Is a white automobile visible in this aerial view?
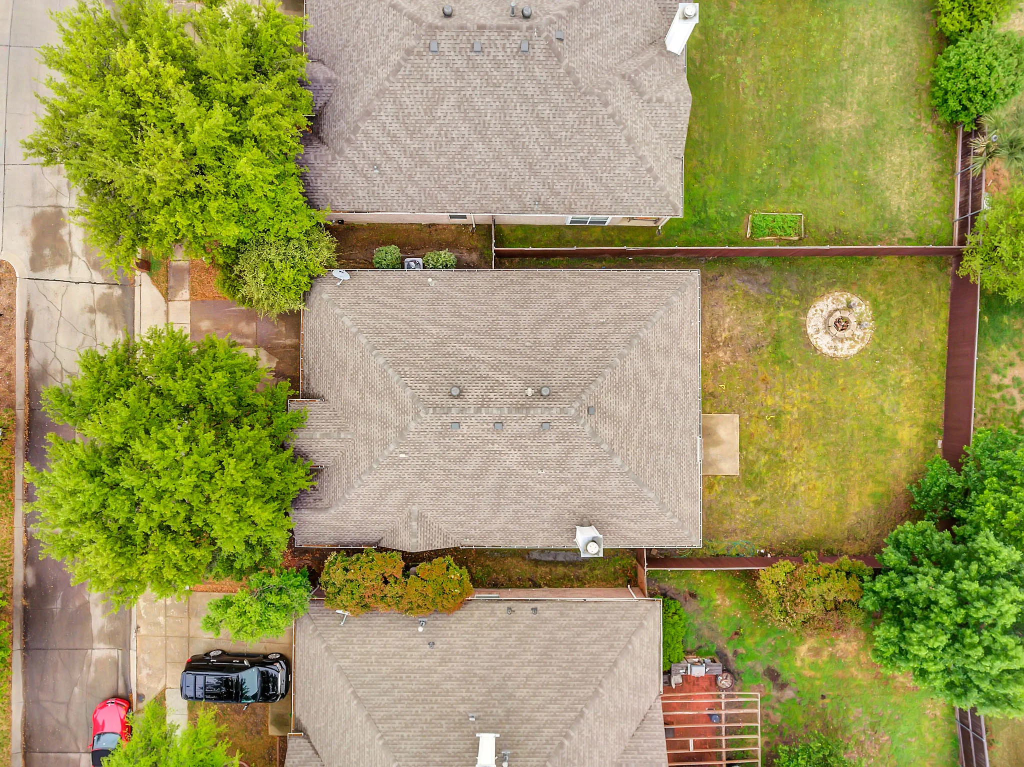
No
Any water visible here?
No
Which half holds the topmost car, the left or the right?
left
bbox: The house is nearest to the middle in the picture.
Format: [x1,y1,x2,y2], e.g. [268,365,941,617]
[280,269,703,559]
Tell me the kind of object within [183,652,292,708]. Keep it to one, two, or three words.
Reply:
car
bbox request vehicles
[183,652,292,708]
[89,693,139,767]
